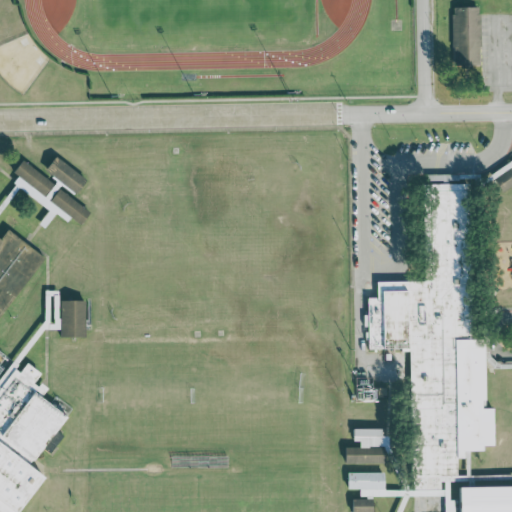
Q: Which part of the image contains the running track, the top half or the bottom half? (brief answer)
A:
top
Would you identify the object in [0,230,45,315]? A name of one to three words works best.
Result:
building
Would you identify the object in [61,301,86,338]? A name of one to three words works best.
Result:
house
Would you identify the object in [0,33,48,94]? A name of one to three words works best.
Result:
baseball field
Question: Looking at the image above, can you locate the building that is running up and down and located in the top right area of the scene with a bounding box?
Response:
[452,7,481,66]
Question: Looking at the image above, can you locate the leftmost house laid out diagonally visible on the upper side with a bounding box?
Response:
[16,160,56,196]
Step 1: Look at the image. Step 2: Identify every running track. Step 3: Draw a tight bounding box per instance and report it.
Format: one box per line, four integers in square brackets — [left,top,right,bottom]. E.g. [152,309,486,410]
[24,0,370,72]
